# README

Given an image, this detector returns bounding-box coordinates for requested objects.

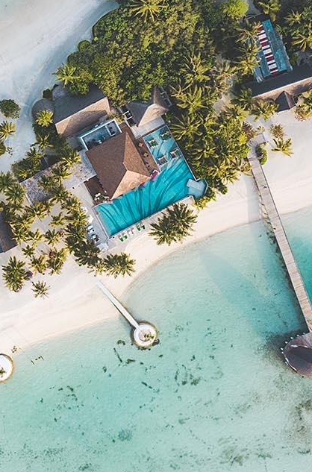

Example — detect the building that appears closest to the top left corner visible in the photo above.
[48,82,112,135]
